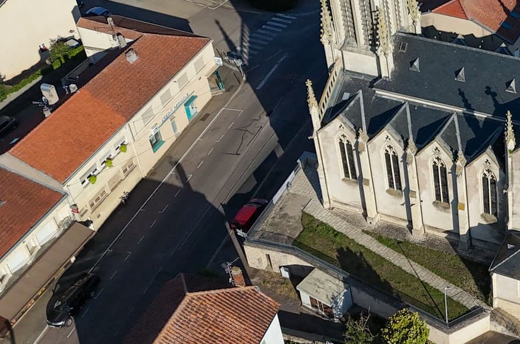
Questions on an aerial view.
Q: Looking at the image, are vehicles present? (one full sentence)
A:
Yes, the picture does show a vehicle.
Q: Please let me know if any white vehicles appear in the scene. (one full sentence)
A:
No, the photo shows no white vehicle.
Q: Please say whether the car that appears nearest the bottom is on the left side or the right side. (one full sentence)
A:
The car that appears nearest the bottom sits on the left side.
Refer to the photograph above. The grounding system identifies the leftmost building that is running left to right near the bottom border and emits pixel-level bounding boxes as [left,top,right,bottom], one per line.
[99,267,284,344]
